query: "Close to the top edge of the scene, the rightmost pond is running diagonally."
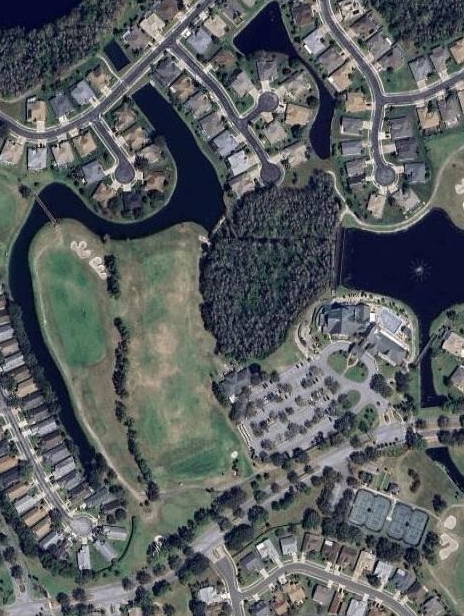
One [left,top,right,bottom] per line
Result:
[233,1,334,159]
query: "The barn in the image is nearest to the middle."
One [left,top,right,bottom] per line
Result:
[217,365,254,401]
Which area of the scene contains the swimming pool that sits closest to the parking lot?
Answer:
right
